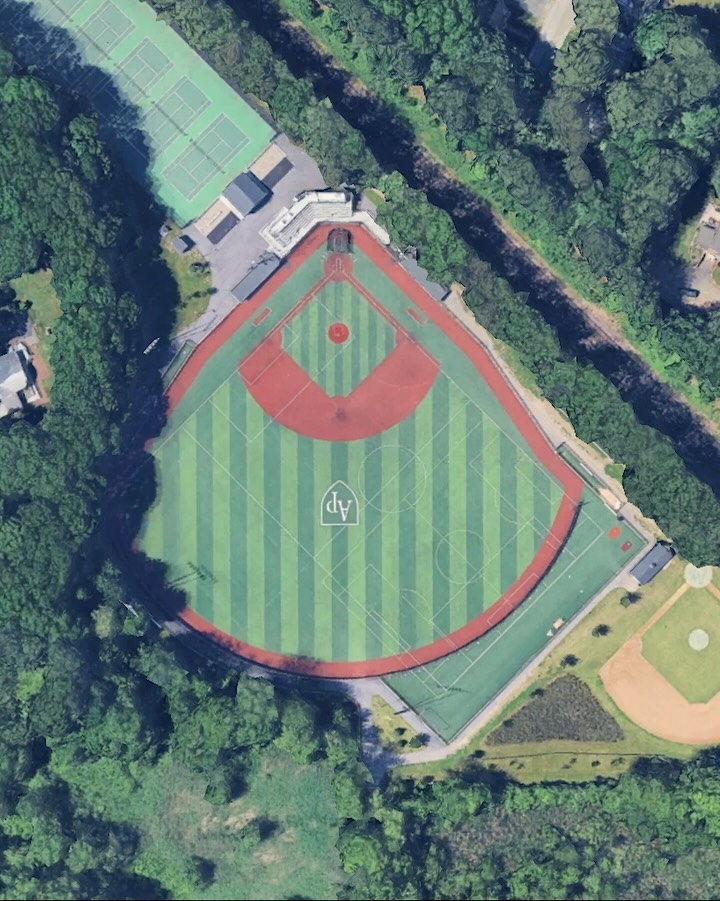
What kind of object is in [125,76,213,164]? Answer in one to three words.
tennis court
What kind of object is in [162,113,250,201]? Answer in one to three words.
tennis court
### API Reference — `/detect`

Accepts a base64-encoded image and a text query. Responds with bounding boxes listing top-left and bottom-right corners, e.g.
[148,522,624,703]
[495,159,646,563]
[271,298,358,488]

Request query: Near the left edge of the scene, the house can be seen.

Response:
[0,347,30,413]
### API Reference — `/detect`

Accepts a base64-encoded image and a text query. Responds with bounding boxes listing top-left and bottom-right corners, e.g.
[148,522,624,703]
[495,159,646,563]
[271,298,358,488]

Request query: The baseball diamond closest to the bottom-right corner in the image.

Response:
[600,561,720,744]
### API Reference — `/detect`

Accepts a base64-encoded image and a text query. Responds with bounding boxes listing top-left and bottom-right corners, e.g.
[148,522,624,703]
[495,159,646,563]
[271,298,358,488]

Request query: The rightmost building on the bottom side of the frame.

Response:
[632,543,673,584]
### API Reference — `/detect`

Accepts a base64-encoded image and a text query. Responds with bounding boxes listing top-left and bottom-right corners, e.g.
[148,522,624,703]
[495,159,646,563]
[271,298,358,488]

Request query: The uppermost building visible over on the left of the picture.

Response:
[222,173,266,219]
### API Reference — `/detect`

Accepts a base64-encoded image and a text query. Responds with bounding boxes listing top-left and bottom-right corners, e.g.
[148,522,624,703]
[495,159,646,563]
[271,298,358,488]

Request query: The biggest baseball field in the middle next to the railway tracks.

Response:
[98,223,583,699]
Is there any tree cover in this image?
Yes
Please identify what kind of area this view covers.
sports ground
